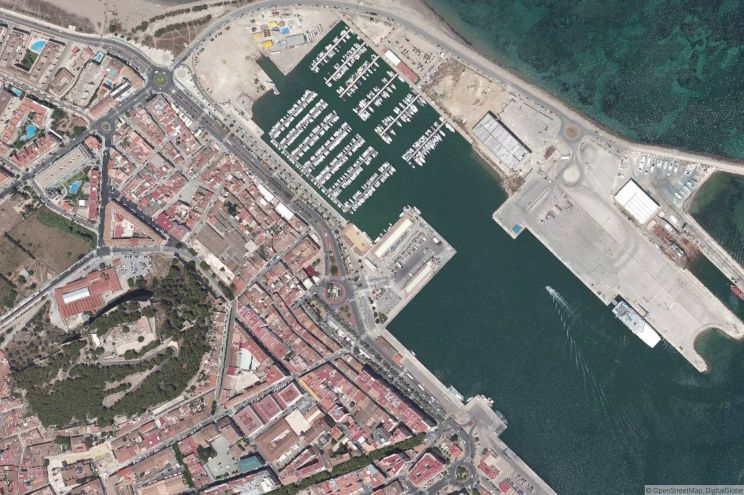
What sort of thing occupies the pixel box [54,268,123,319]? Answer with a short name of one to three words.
building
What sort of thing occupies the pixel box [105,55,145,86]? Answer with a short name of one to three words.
building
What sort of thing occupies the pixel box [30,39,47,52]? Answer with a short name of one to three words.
swimming pool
